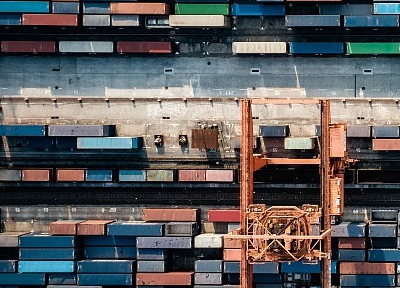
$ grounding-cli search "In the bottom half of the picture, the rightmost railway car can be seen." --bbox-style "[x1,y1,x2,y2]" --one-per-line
[358,166,400,182]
